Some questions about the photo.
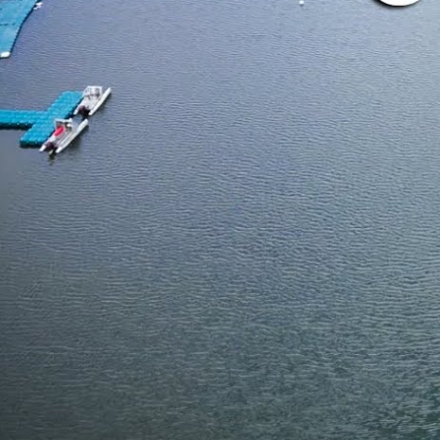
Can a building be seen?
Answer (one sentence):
No, this view has no building in it.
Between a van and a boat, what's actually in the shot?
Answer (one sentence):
The one in the frame is a boat.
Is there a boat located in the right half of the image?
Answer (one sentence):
No, no boat is visible in the right half of the image.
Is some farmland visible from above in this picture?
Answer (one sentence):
No, there is no farmland in the image.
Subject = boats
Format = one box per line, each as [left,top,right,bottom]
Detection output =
[70,80,111,119]
[38,116,88,156]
